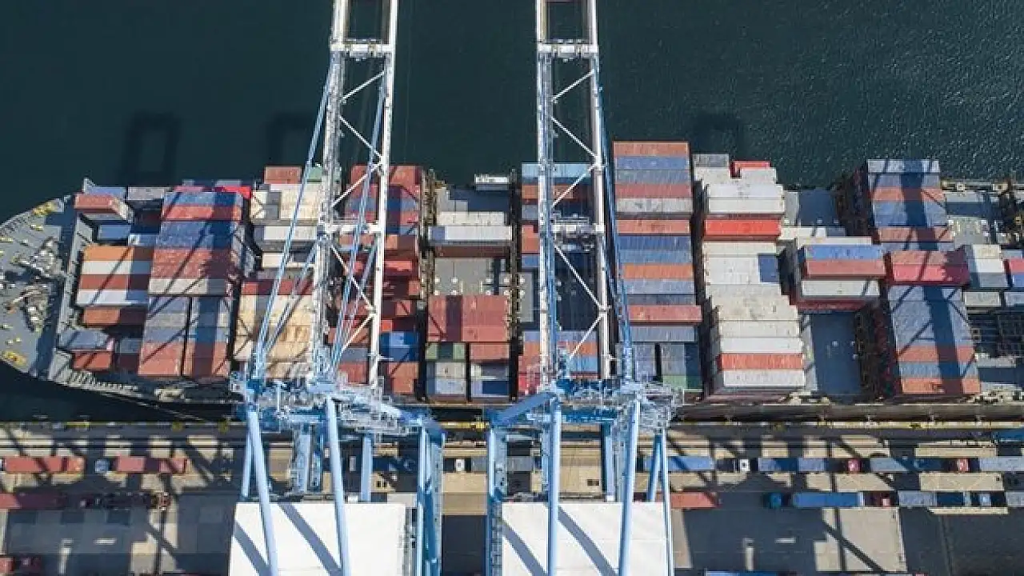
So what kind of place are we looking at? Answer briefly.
port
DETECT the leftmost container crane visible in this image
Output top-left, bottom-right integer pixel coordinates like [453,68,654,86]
[228,0,482,576]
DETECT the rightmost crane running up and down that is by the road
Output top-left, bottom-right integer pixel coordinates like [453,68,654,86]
[472,0,685,576]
